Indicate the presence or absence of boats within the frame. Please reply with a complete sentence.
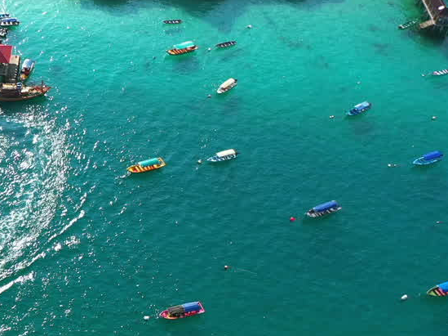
Yes, the photo shows a boat.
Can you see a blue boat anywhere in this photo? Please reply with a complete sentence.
Yes, there is a blue boat in the image.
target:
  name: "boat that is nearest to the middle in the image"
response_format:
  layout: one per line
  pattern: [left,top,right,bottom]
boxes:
[207,150,239,163]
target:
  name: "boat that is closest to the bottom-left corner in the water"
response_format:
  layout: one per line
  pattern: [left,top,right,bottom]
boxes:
[159,299,205,318]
